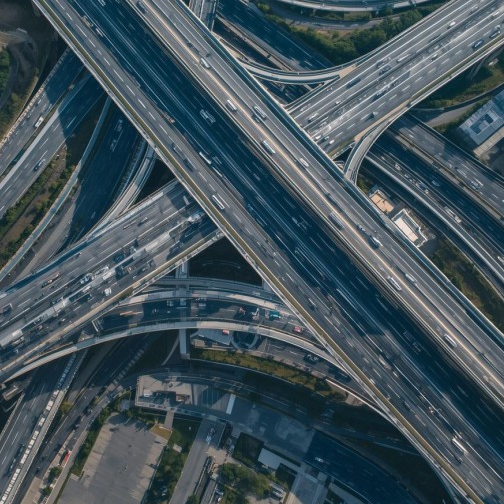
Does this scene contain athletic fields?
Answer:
No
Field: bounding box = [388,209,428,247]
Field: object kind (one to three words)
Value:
building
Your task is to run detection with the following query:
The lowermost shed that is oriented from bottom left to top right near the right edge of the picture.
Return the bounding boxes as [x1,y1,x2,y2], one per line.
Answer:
[468,129,504,158]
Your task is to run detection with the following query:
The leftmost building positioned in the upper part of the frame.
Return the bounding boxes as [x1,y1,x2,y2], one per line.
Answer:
[368,189,395,213]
